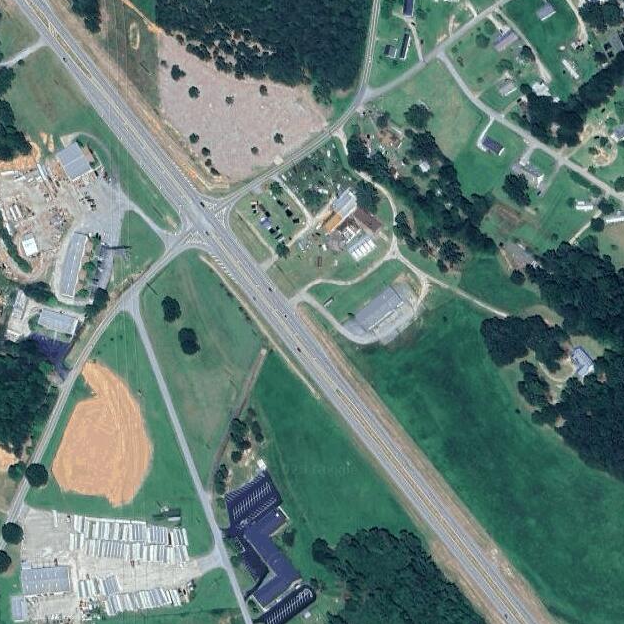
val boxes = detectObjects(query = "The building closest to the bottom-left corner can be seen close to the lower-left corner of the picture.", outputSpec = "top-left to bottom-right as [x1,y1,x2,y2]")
[12,596,27,622]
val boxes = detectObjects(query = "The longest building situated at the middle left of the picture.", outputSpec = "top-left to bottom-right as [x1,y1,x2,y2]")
[60,233,89,297]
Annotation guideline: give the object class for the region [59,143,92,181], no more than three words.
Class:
building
